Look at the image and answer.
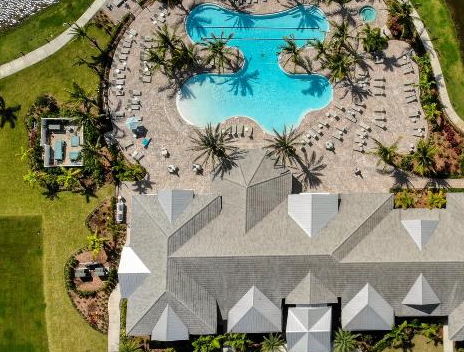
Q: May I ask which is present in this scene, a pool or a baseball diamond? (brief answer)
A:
pool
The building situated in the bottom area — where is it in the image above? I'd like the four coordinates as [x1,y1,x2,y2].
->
[118,150,464,352]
